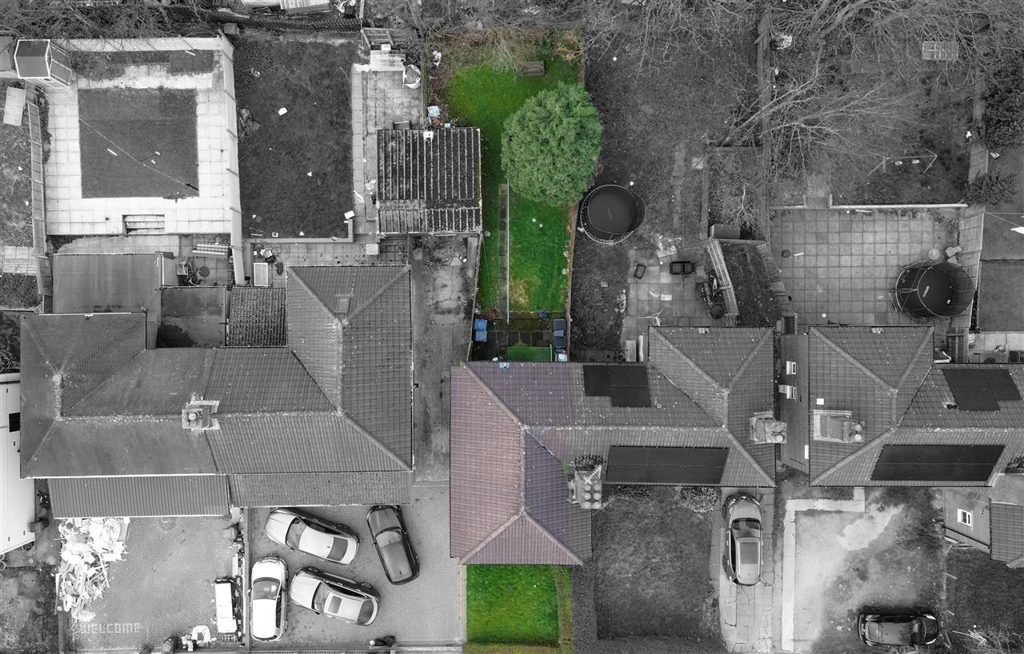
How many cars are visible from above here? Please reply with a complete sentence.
The picture shows 6 cars.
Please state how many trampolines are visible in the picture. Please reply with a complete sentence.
I count 2 trampolines.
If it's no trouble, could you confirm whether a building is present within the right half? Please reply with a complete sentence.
Yes, there is a building within the right half.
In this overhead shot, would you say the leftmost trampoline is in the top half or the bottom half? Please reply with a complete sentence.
The top half of the photo is where the leftmost trampoline is.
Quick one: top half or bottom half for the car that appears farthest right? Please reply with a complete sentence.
You can find the car that appears farthest right in the bottom half.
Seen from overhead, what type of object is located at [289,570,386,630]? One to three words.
car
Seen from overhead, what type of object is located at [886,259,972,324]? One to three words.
trampoline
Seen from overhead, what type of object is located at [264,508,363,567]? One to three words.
car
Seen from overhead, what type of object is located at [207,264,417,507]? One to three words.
house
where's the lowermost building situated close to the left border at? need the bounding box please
[19,254,233,518]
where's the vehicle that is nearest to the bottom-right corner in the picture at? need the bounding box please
[855,606,936,652]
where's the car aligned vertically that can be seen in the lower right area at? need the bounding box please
[721,492,768,588]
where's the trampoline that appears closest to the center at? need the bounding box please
[575,180,642,245]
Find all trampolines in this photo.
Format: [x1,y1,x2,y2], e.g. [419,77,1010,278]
[575,180,642,245]
[886,259,972,324]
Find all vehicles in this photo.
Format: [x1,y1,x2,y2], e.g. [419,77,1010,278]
[245,555,292,643]
[855,606,936,652]
[264,508,363,567]
[370,505,423,586]
[721,492,768,588]
[289,570,386,630]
